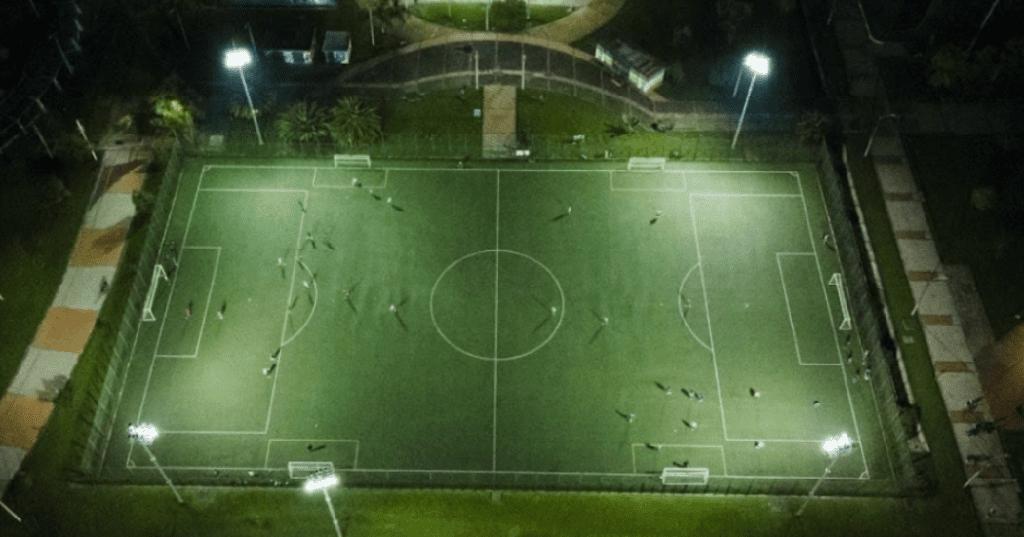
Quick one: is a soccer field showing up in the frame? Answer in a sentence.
Yes, the picture does show a soccer field.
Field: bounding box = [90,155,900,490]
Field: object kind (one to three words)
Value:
soccer field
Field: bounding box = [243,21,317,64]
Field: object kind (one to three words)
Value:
building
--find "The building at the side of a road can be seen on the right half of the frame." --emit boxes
[594,28,669,90]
